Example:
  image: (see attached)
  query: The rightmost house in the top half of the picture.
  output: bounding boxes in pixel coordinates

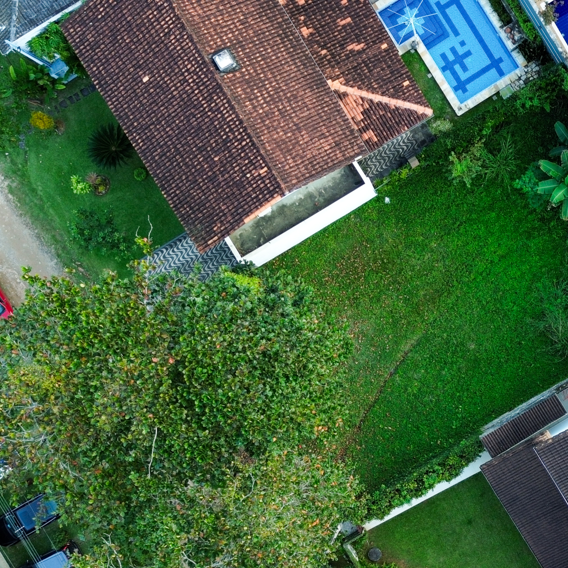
[57,0,434,262]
